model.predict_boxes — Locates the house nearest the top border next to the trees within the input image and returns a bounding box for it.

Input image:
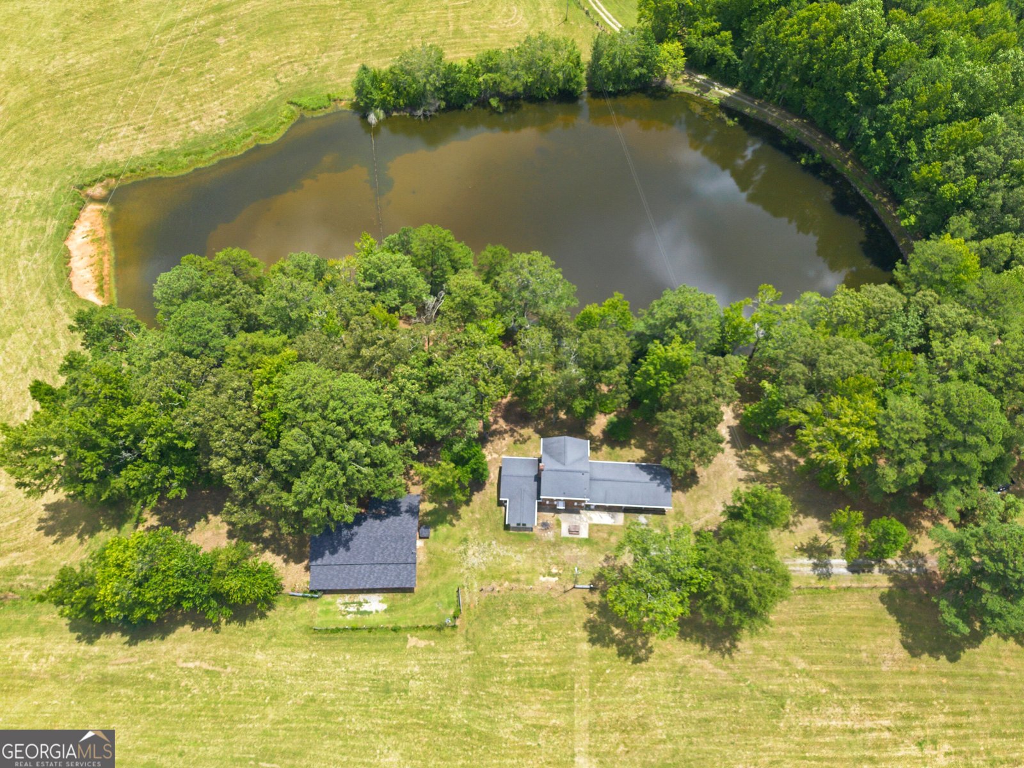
[499,436,673,531]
